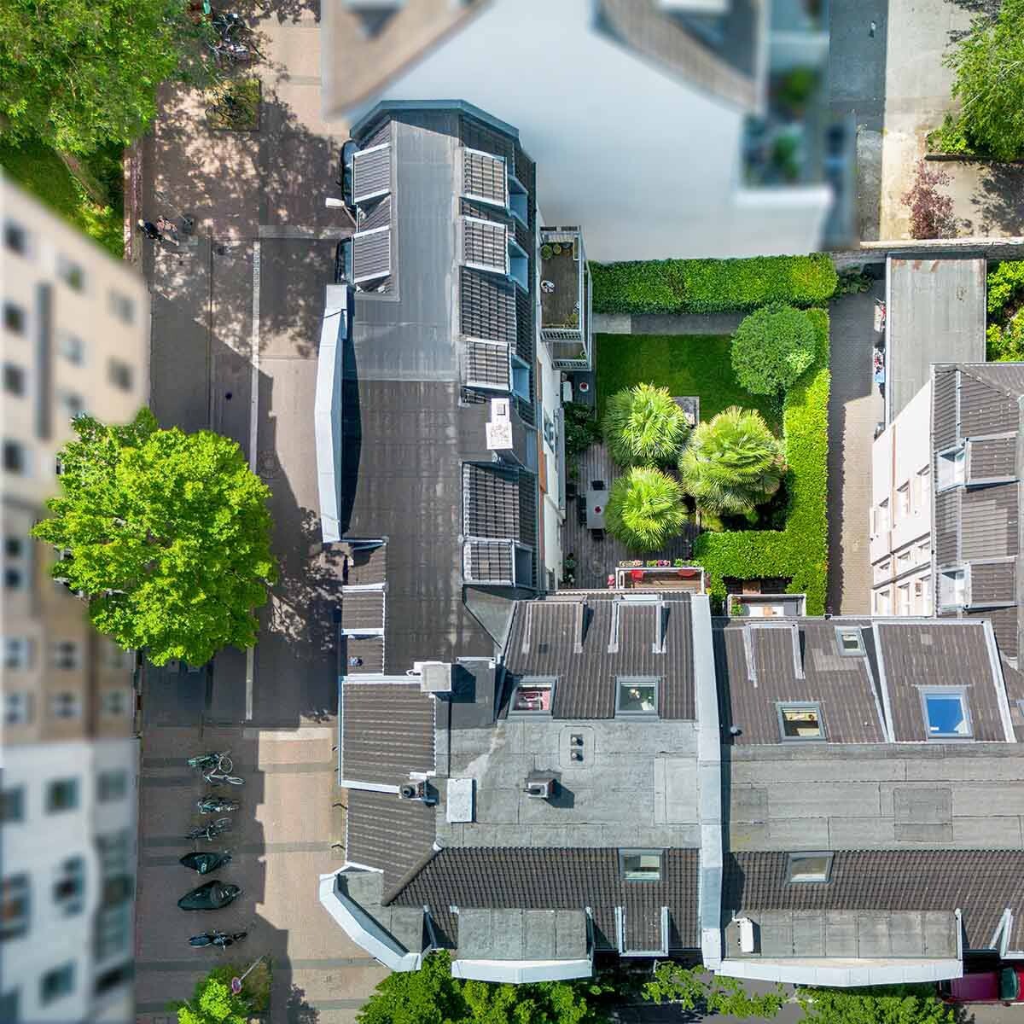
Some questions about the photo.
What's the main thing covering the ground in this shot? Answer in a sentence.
The bulk of the photo consists of buildings.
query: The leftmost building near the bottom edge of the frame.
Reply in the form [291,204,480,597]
[0,740,141,1024]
